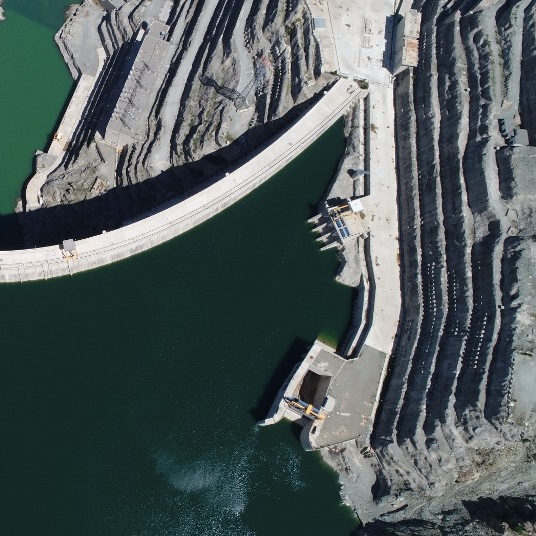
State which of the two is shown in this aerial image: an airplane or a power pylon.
power pylon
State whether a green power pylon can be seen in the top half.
No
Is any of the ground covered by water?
Yes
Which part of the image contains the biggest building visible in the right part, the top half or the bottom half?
top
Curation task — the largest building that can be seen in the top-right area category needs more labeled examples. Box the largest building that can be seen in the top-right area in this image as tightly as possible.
[392,8,422,74]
